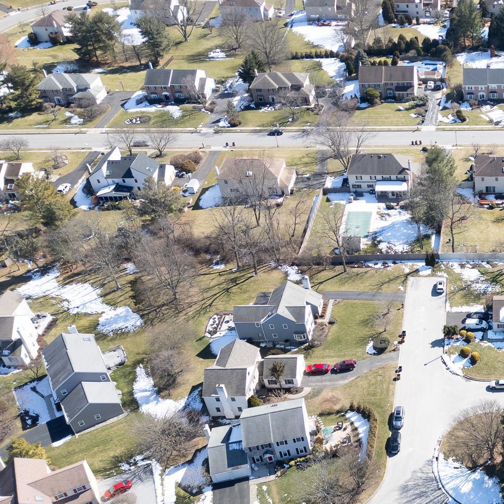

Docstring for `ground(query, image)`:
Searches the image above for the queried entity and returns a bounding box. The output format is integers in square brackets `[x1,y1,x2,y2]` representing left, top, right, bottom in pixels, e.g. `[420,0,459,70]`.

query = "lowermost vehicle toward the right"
[388,433,400,455]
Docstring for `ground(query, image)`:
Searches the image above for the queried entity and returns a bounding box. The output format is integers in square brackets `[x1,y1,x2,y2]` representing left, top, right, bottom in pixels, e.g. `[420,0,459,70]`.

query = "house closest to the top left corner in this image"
[31,10,81,44]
